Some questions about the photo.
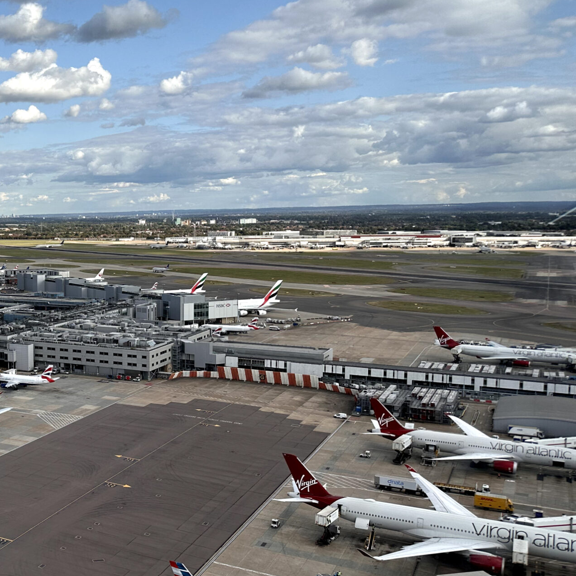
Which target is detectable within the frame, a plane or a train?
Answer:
plane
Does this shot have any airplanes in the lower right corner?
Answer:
Yes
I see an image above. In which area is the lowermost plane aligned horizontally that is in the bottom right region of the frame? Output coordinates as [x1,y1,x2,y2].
[286,456,576,571]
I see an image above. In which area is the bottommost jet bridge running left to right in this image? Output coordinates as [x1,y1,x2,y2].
[505,511,576,533]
